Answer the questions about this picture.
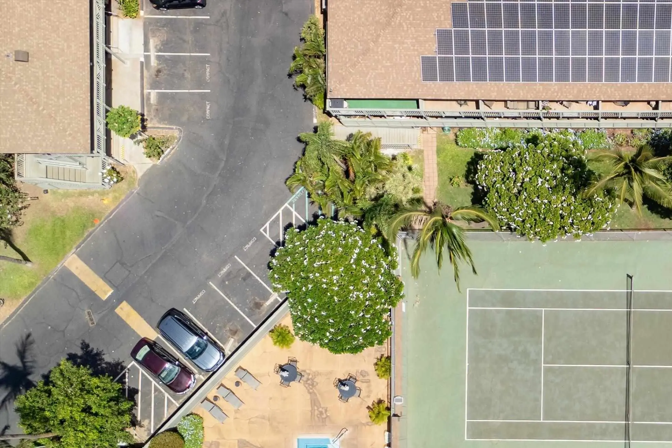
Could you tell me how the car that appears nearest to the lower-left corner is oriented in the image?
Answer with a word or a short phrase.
at an angle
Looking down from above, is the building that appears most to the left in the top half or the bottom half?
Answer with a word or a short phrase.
top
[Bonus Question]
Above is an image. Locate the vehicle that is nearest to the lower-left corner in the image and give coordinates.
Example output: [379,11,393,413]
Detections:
[124,336,192,393]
